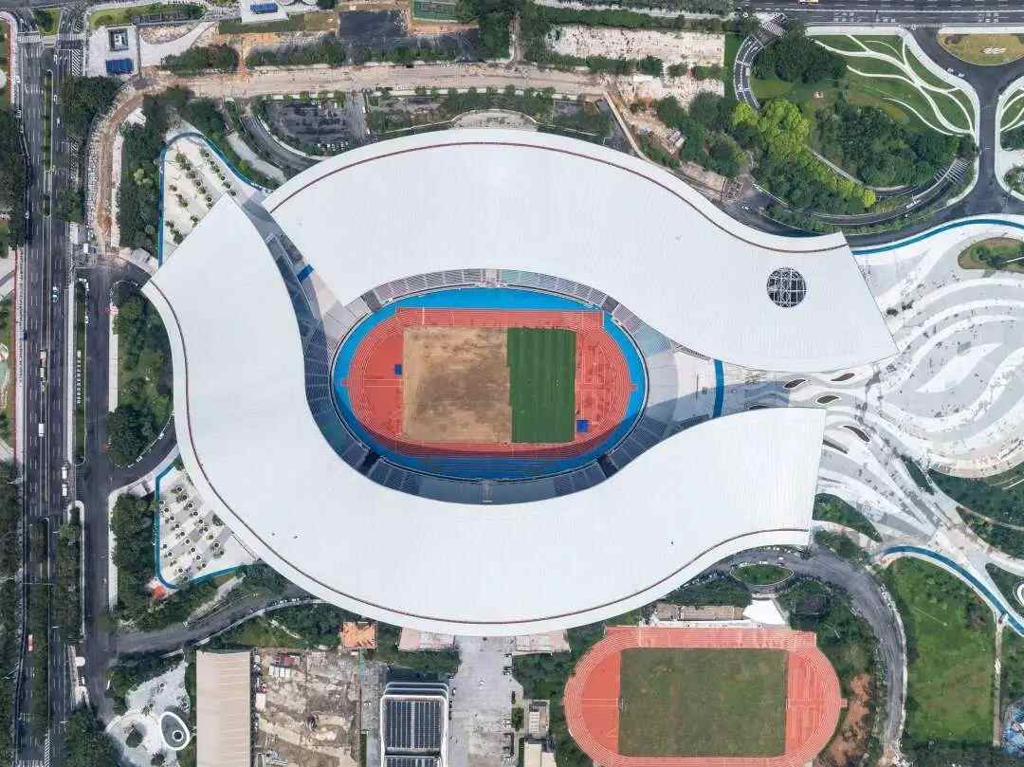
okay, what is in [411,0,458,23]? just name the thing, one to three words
sports court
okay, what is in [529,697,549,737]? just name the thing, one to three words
building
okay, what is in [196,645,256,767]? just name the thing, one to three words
shed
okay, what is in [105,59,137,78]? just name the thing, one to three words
building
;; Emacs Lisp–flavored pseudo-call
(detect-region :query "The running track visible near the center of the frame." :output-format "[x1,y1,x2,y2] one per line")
[335,287,647,478]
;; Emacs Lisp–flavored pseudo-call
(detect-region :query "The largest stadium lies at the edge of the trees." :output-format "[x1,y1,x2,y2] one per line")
[141,129,899,637]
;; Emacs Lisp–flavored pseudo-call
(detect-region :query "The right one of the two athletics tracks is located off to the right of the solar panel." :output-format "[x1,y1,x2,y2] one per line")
[559,626,847,767]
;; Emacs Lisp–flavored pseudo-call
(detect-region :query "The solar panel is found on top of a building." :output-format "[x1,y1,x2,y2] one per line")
[387,700,441,767]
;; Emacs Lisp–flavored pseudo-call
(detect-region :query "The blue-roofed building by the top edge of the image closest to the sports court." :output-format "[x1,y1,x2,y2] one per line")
[250,3,280,17]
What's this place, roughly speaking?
sports ground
